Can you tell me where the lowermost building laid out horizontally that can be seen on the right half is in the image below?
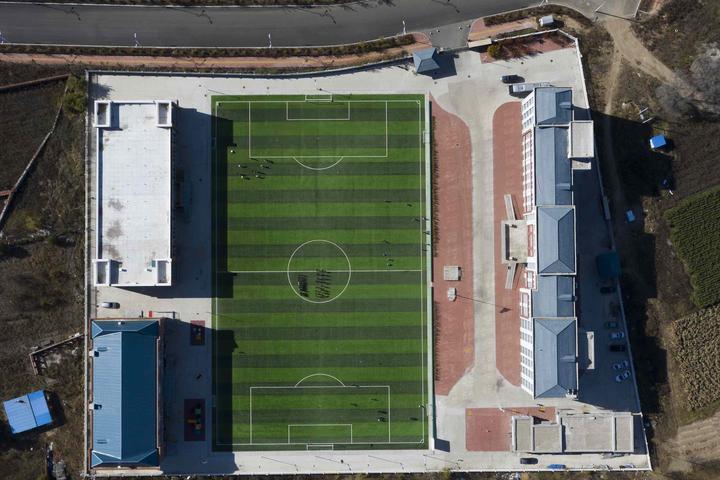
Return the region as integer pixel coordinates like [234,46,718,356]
[508,408,634,453]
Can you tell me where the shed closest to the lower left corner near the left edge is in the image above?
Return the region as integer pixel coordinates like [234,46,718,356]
[4,390,54,433]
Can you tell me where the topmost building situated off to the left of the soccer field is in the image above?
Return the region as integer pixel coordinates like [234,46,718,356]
[94,100,190,286]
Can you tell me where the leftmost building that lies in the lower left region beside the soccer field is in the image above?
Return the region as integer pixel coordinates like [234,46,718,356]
[89,314,172,470]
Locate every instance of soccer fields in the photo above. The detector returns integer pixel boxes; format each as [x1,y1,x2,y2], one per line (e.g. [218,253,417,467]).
[212,94,428,451]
